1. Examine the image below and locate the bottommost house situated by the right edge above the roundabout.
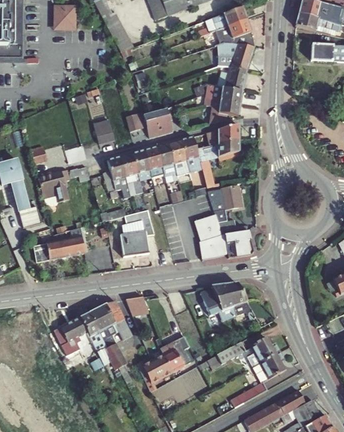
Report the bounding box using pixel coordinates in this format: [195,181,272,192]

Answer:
[310,42,335,66]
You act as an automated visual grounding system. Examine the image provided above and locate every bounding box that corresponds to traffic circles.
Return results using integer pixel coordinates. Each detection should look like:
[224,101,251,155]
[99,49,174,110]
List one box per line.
[266,166,340,240]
